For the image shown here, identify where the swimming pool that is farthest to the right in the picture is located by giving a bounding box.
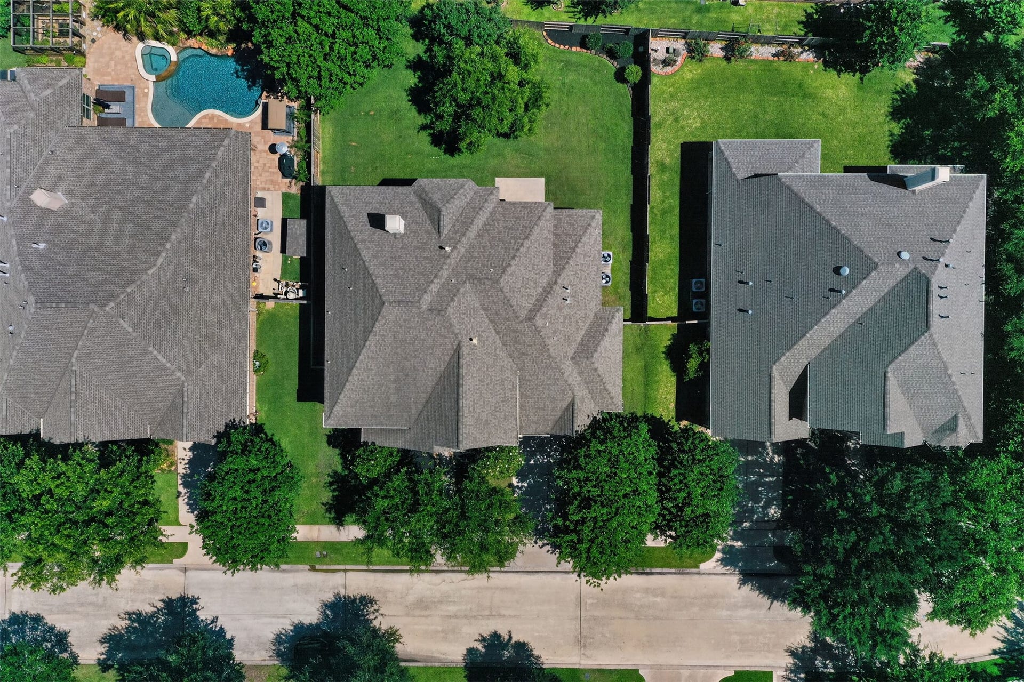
[177,48,261,67]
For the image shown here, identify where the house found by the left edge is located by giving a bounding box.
[0,67,258,445]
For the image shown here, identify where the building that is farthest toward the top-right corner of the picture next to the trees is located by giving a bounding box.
[706,137,988,448]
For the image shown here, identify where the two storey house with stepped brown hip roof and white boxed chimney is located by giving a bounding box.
[323,177,624,451]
